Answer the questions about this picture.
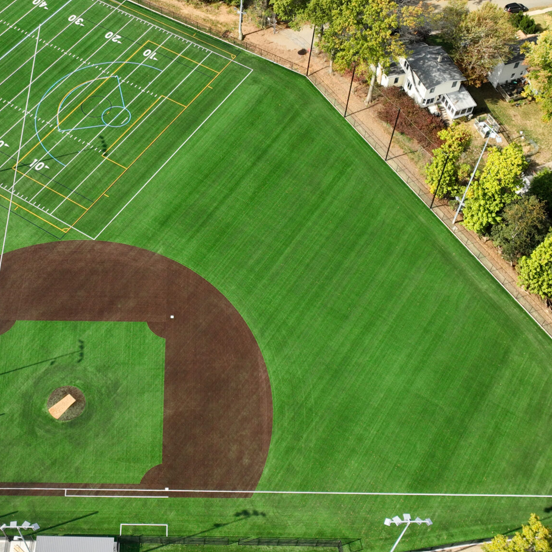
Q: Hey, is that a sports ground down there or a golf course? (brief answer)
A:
sports ground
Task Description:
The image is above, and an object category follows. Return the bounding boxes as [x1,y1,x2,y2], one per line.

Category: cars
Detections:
[503,0,529,14]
